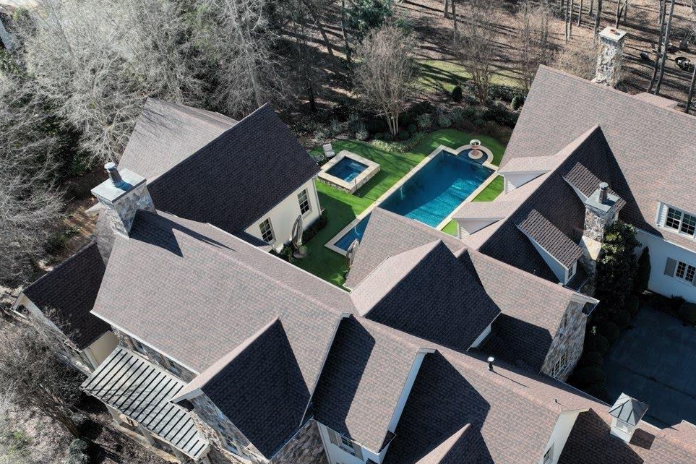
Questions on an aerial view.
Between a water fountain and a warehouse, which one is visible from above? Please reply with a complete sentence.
This aerial view contains a water fountain.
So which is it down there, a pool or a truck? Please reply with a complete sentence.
Of the two, only a pool appears.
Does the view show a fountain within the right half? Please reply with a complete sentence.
Yes, a fountain appears within the right half.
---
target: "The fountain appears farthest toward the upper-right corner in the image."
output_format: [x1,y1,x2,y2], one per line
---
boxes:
[455,139,497,166]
